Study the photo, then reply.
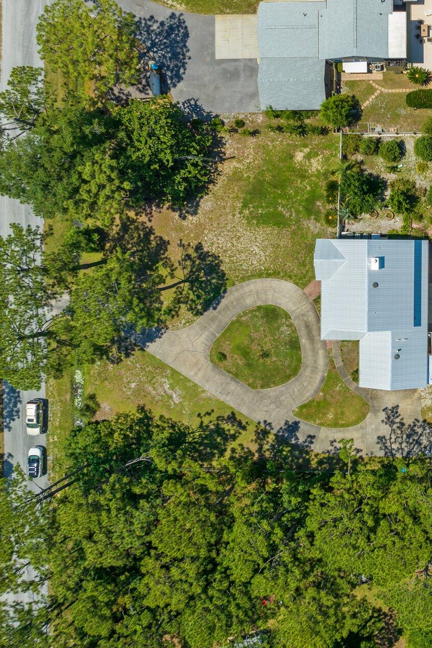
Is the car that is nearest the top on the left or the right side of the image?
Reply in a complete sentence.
The car that is nearest the top sits on the left side.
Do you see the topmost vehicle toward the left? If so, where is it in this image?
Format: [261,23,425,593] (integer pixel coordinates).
[25,397,46,433]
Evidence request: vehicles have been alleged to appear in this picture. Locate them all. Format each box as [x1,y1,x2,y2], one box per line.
[27,443,46,477]
[25,397,46,433]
